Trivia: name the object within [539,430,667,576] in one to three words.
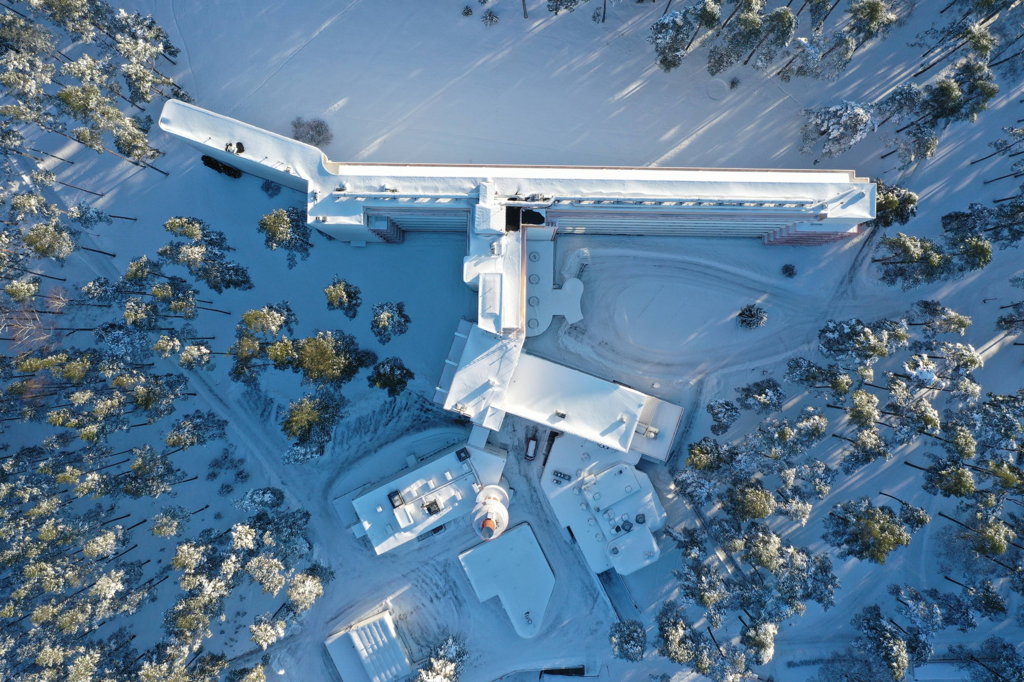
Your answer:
building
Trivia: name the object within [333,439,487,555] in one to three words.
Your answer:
building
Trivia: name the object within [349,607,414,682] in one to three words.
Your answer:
shed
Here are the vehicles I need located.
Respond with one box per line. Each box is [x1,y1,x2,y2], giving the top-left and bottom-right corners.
[524,437,538,462]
